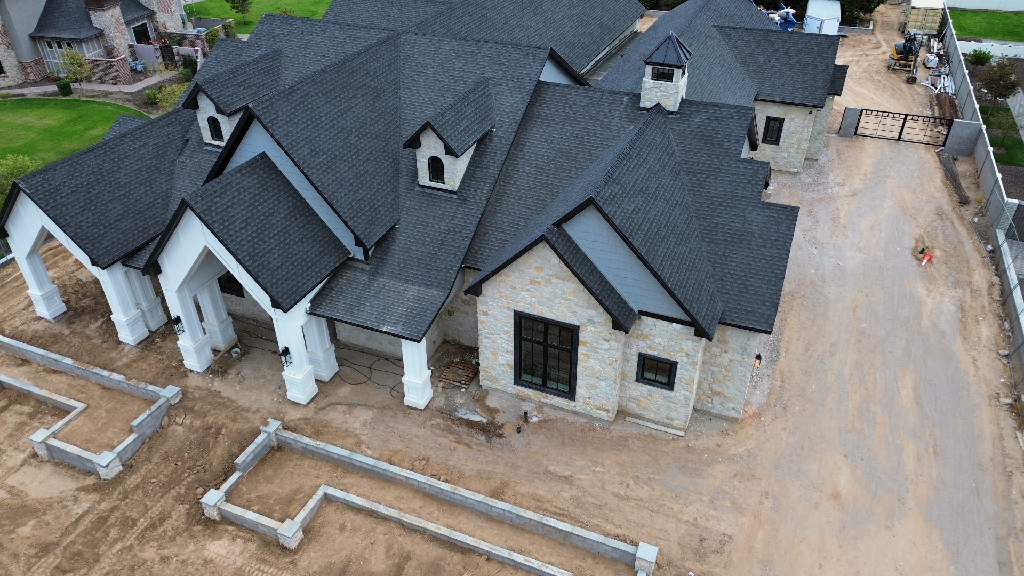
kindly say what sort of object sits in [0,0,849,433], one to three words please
house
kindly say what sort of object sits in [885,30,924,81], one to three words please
work vehicle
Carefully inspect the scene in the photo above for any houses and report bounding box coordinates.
[0,0,233,89]
[0,0,849,433]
